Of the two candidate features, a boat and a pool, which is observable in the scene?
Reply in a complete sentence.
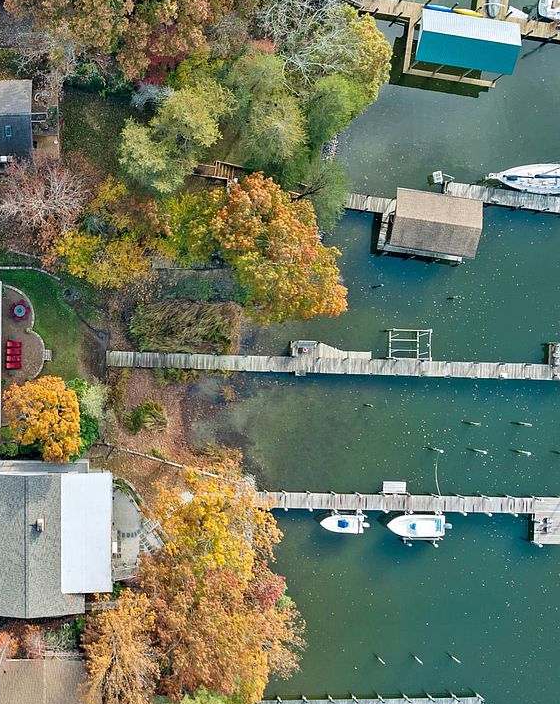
This aerial view contains a boat.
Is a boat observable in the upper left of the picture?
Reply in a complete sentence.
No, I see no boat in the upper left of the picture.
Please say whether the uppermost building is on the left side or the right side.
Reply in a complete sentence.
The uppermost building is on the right side of the image.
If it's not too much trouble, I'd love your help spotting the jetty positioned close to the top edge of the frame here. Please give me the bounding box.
[358,0,560,90]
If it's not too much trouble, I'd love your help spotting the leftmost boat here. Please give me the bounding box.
[319,516,372,534]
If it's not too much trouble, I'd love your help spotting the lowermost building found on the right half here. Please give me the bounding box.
[383,188,483,259]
